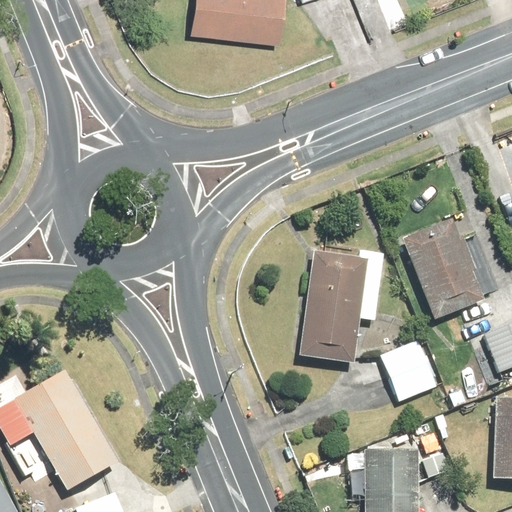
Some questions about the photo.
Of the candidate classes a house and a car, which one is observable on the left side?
house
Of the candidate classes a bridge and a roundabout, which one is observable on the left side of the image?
roundabout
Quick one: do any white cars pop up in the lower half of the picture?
Yes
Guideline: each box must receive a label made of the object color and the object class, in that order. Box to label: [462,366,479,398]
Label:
white car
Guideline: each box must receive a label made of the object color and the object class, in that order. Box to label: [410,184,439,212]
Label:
white car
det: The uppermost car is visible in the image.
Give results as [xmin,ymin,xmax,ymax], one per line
[416,50,444,66]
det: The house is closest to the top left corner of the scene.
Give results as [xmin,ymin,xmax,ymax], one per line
[190,0,289,46]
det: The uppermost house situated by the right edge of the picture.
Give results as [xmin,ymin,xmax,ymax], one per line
[404,218,496,318]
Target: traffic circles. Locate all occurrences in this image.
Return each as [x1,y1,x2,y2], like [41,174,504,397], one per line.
[52,143,197,281]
